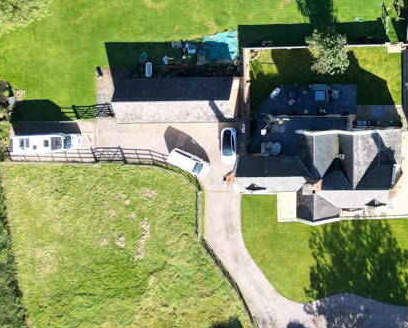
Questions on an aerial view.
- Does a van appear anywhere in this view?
Yes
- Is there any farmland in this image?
Yes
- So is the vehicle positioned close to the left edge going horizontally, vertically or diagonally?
horizontally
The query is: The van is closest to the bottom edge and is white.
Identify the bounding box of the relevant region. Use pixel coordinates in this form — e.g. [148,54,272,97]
[168,146,213,176]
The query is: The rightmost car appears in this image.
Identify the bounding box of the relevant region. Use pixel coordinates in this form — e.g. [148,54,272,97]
[220,128,239,163]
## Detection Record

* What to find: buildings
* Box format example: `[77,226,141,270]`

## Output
[222,131,407,223]
[100,76,245,122]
